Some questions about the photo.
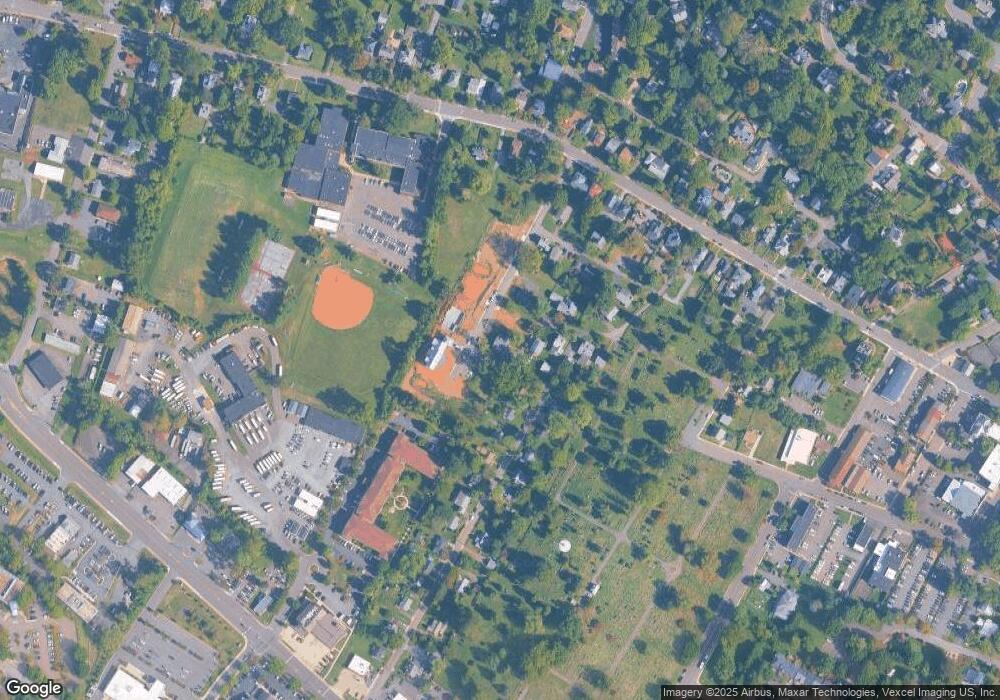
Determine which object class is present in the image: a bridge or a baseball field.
baseball field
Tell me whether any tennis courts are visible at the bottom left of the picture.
No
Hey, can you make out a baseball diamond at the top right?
No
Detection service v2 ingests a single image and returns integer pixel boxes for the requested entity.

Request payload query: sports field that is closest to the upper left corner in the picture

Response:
[136,142,316,345]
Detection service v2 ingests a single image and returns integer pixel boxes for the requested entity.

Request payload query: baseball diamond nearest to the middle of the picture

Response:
[238,236,430,416]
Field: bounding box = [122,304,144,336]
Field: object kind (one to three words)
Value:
building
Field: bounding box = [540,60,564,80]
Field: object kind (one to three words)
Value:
house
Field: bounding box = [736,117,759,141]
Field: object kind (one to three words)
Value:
house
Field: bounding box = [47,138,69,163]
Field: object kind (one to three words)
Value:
building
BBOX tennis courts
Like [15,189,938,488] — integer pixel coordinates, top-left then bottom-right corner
[240,240,297,309]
